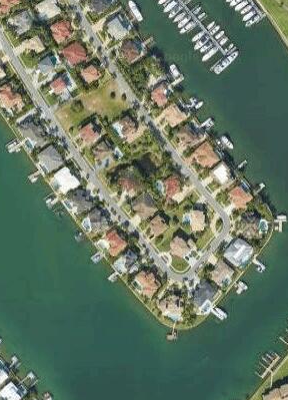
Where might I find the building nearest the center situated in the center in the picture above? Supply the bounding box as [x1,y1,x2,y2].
[129,191,158,220]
